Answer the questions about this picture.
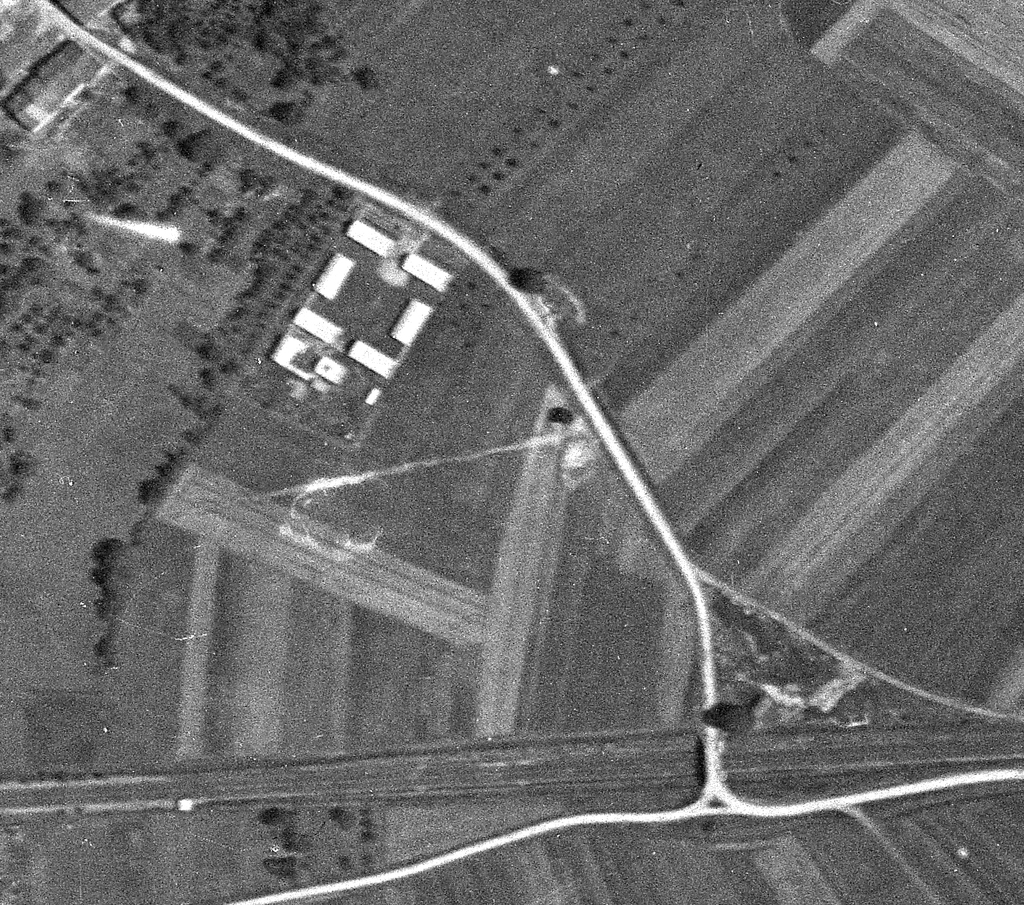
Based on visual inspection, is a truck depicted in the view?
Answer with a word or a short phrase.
No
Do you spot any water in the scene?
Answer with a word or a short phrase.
No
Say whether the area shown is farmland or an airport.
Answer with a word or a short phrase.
farmland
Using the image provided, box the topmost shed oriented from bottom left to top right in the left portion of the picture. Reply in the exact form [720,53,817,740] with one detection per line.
[316,253,355,298]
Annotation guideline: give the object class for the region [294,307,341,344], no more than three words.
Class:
shed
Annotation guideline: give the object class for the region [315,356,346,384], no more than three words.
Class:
building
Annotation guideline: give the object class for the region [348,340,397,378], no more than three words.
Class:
shed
